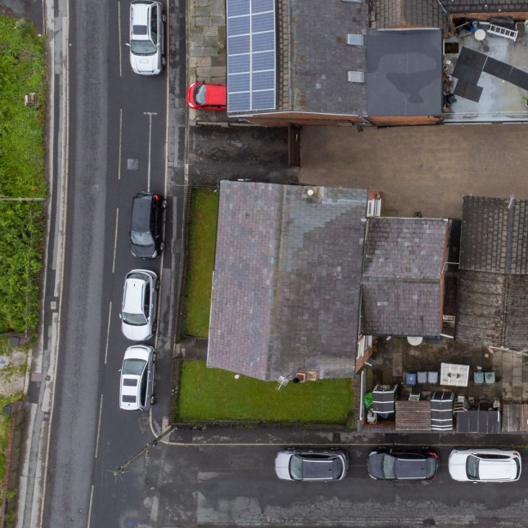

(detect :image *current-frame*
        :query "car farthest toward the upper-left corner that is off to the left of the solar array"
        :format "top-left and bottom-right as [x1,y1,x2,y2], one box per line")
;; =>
[129,0,169,75]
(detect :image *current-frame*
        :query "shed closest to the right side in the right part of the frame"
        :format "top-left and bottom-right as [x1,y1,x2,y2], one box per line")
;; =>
[503,397,528,431]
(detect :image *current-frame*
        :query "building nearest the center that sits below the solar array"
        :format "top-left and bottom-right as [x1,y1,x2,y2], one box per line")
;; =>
[206,180,377,384]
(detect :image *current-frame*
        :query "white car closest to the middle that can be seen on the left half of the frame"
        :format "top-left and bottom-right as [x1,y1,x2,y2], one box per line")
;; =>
[121,270,159,340]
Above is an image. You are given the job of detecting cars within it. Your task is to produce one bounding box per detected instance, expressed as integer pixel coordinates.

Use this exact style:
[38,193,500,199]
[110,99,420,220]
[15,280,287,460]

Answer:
[277,446,348,483]
[120,344,157,409]
[451,447,521,482]
[369,445,437,481]
[121,270,159,340]
[187,79,225,111]
[129,0,169,75]
[130,192,167,257]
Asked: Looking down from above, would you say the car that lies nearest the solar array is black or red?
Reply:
red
